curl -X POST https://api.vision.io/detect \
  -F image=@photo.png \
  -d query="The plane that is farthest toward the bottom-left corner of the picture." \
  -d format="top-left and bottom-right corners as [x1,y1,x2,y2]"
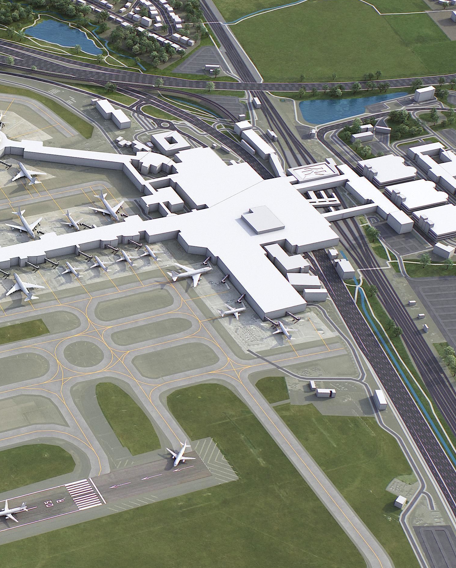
[0,497,28,521]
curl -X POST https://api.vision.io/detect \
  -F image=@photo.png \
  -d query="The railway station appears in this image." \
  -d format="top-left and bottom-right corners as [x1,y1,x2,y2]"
[287,162,338,183]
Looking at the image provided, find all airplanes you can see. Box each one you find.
[0,497,28,521]
[89,192,125,221]
[169,261,212,285]
[11,162,50,184]
[141,245,164,261]
[168,443,197,466]
[63,211,84,230]
[273,321,299,339]
[117,250,140,266]
[90,256,114,272]
[218,303,246,319]
[5,208,43,238]
[5,272,48,302]
[63,262,88,278]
